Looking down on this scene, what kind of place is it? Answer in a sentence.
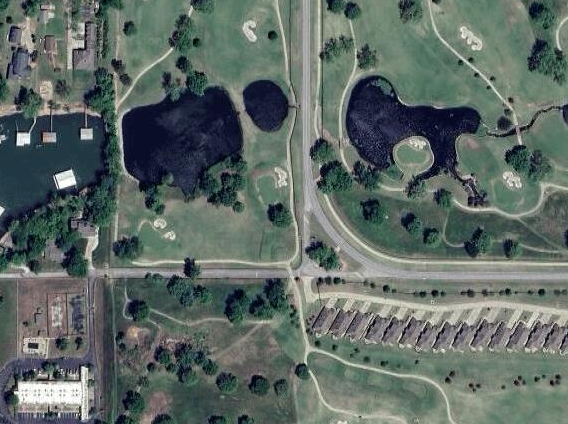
This image shows a golf course.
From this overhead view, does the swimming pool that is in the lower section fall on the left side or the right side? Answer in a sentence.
You can find the swimming pool that is in the lower section on the left side of the picture.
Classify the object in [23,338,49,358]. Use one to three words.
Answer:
swimming pool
